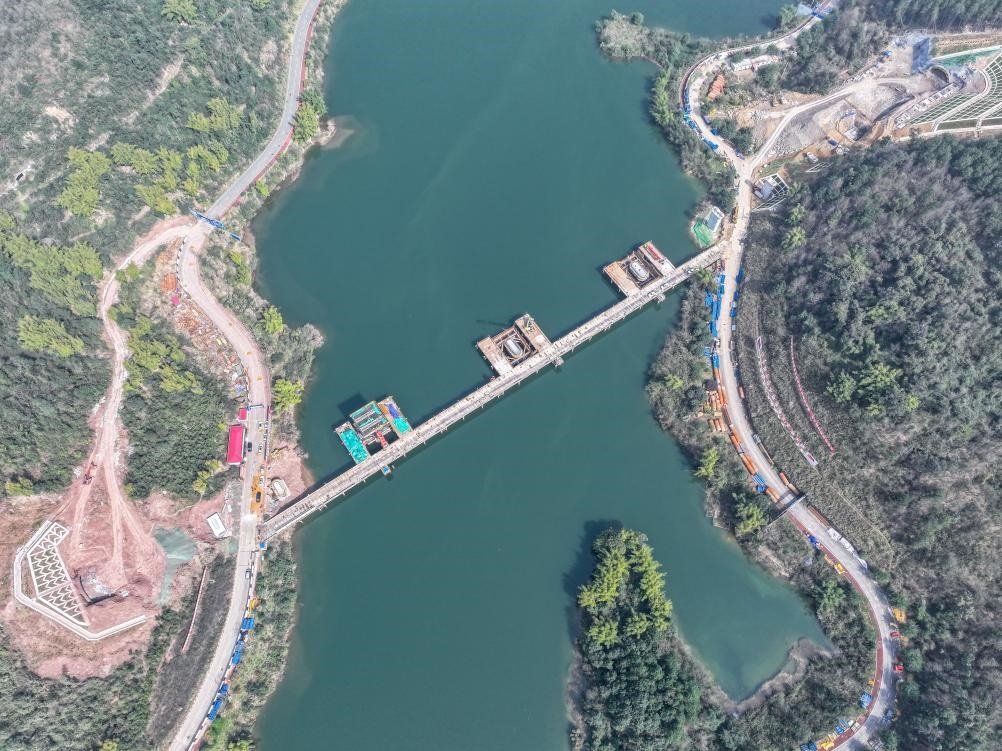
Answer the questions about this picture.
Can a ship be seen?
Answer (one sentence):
No, there's no ship here.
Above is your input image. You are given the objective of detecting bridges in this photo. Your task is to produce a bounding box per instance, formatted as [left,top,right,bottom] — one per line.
[253,242,730,542]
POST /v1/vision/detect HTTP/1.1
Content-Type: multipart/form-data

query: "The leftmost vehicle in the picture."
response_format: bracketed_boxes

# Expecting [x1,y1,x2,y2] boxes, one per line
[83,463,97,487]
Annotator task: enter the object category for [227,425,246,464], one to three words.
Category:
building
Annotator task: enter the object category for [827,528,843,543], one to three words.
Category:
vehicle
